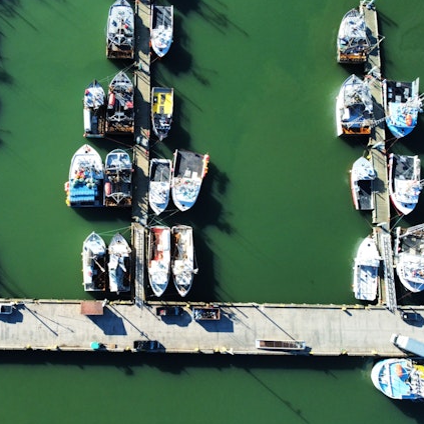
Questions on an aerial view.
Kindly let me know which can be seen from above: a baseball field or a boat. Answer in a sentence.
This aerial view contains a boat.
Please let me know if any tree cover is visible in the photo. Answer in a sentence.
No, the scene doesn't show any tree cover.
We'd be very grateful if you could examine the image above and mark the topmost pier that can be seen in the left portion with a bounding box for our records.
[135,0,151,61]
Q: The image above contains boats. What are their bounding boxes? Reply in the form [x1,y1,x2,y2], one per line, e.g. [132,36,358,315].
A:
[67,142,104,208]
[147,225,171,299]
[104,148,133,208]
[348,156,386,211]
[83,78,106,139]
[83,231,106,291]
[149,3,176,57]
[332,71,395,138]
[171,225,198,300]
[385,154,424,216]
[169,149,208,213]
[108,233,134,295]
[334,3,385,67]
[369,356,424,403]
[349,237,383,301]
[147,158,172,216]
[106,68,136,138]
[379,78,424,138]
[149,87,174,141]
[106,0,136,62]
[390,225,424,294]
